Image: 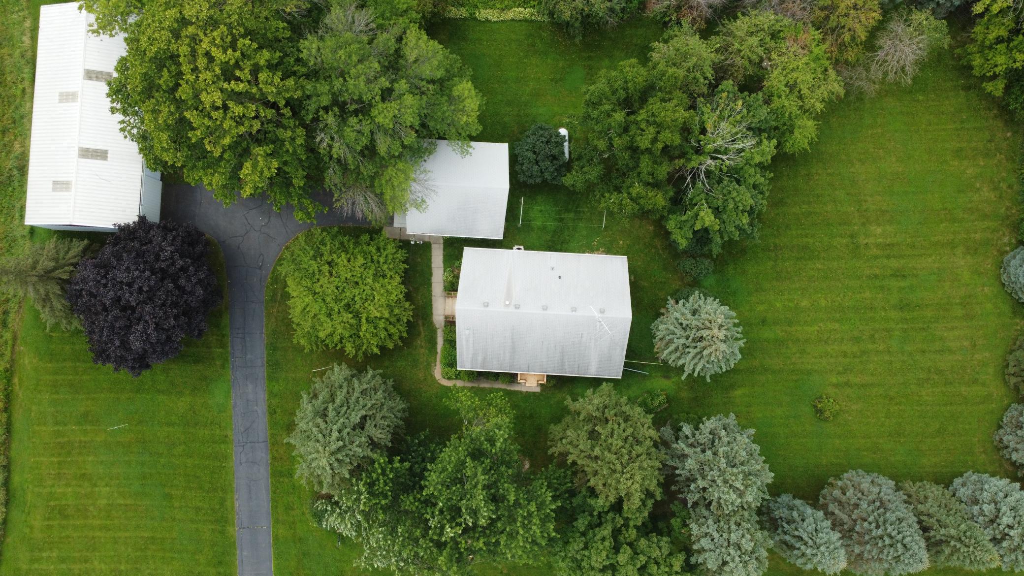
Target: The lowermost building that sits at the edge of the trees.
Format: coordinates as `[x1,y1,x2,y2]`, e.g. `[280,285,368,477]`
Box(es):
[455,246,632,379]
